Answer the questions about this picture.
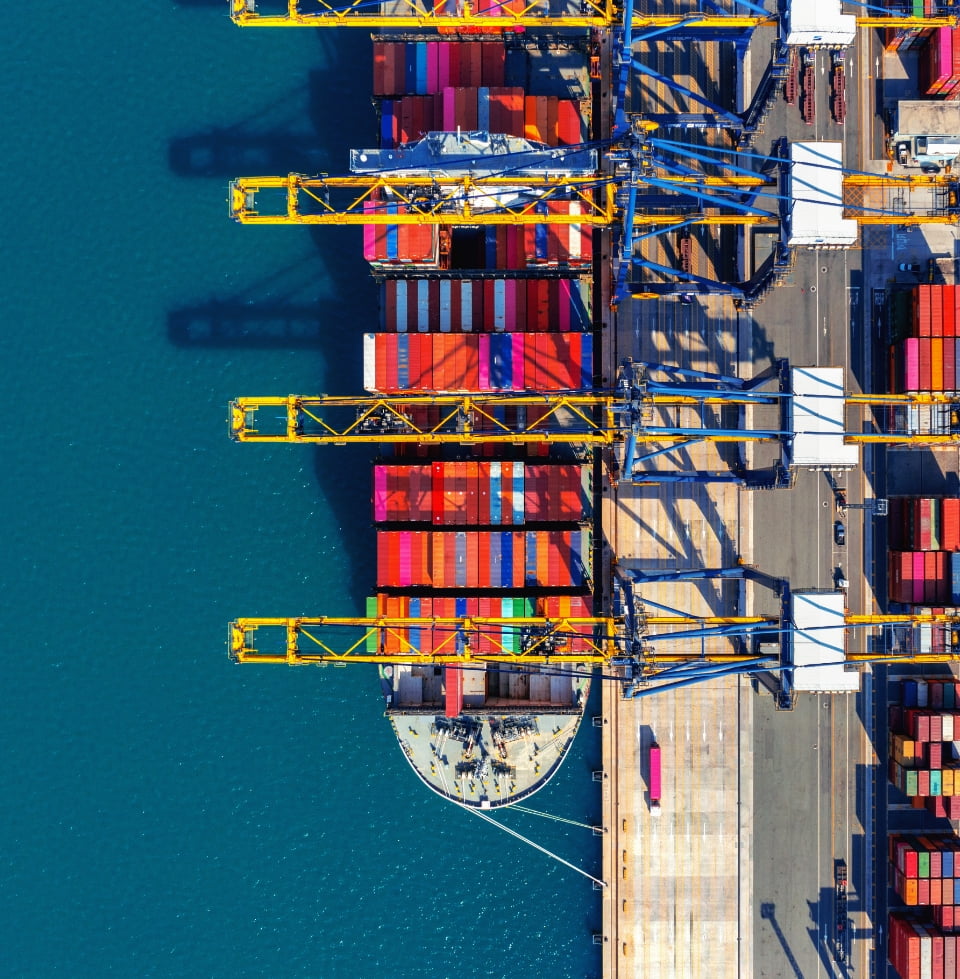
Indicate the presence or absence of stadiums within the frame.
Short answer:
No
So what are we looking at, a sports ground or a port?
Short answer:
port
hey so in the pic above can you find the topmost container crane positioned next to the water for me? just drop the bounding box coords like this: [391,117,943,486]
[224,0,955,154]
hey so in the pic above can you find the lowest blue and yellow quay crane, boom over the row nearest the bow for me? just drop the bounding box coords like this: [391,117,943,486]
[224,551,955,713]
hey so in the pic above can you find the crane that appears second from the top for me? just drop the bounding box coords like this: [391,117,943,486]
[224,131,955,317]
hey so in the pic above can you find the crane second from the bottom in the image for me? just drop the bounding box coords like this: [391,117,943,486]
[224,352,955,498]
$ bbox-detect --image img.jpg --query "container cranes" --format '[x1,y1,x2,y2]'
[224,0,955,154]
[224,352,955,498]
[224,551,955,713]
[224,131,955,317]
